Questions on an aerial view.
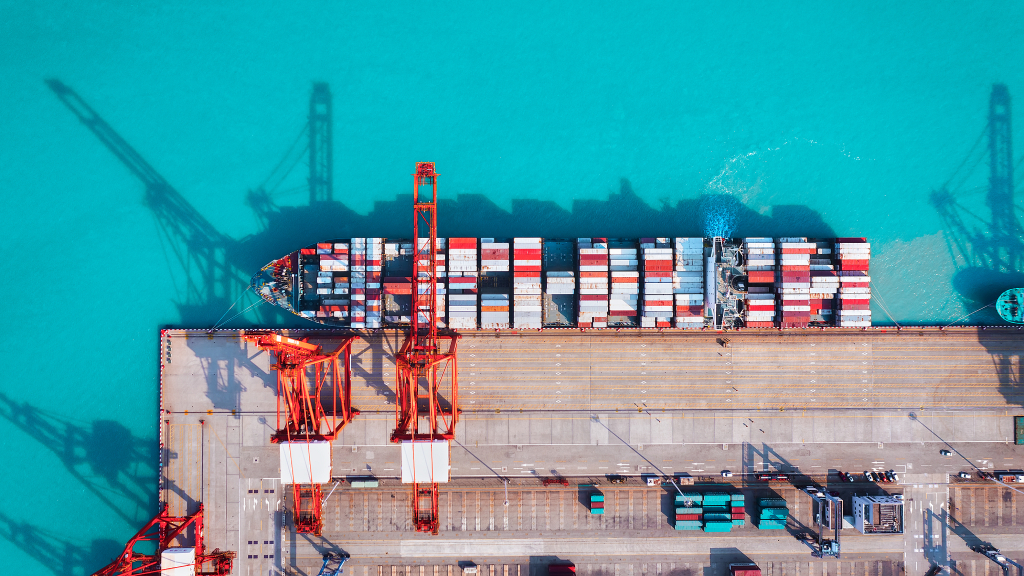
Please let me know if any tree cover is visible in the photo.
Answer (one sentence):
No, the picture contains no tree cover.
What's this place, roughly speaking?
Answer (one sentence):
What you see here is a port.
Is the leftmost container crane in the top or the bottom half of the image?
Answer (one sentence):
The leftmost container crane sits in the bottom half of the picture.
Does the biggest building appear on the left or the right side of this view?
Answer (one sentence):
The biggest building sits on the right side.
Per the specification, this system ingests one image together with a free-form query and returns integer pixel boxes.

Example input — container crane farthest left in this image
[92,501,245,576]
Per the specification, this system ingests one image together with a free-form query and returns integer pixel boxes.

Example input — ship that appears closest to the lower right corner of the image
[994,286,1024,324]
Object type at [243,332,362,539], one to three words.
container crane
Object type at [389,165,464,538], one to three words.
container crane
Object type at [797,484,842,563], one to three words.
crane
